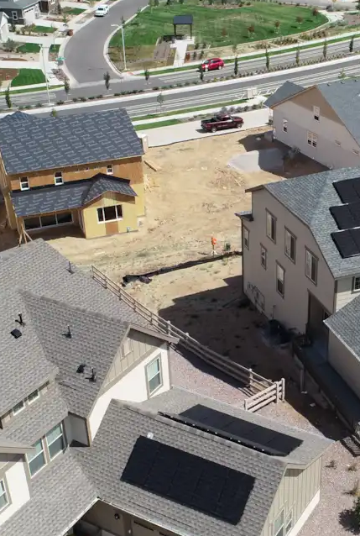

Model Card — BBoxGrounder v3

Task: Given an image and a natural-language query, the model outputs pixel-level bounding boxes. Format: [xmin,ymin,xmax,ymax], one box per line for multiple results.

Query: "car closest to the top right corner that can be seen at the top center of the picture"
[200,57,227,71]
